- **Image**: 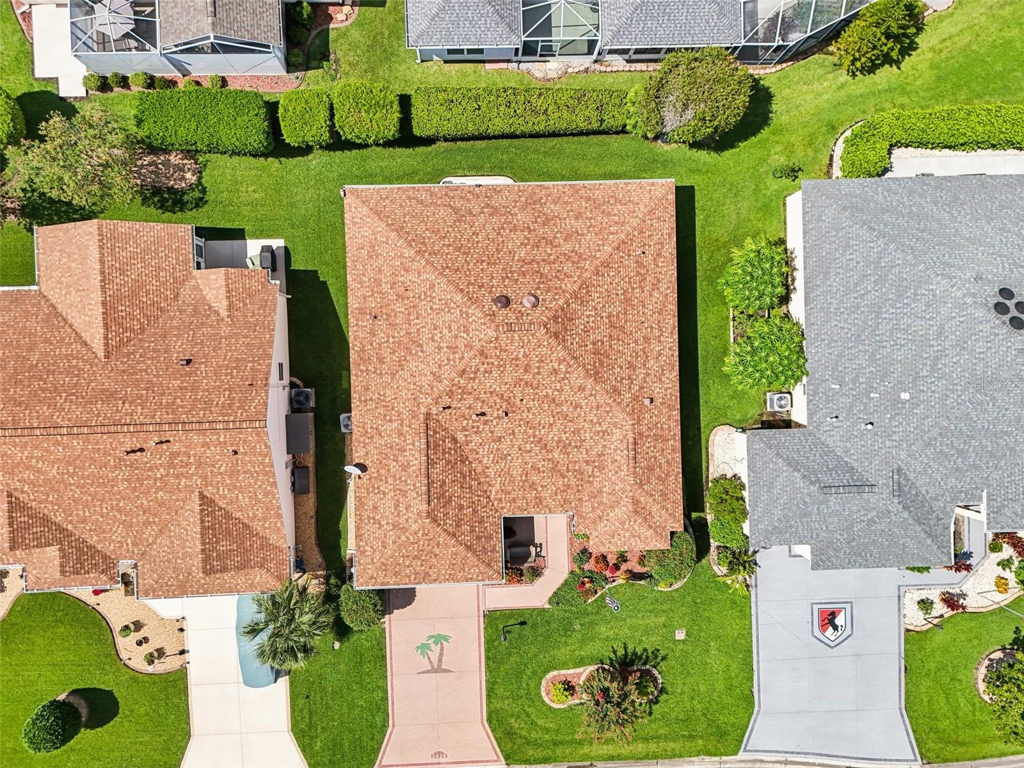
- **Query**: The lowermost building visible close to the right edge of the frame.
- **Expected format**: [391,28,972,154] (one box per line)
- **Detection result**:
[736,176,1024,572]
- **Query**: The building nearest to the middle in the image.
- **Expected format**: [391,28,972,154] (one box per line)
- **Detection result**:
[343,178,685,590]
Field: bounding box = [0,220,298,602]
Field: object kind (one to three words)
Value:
house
